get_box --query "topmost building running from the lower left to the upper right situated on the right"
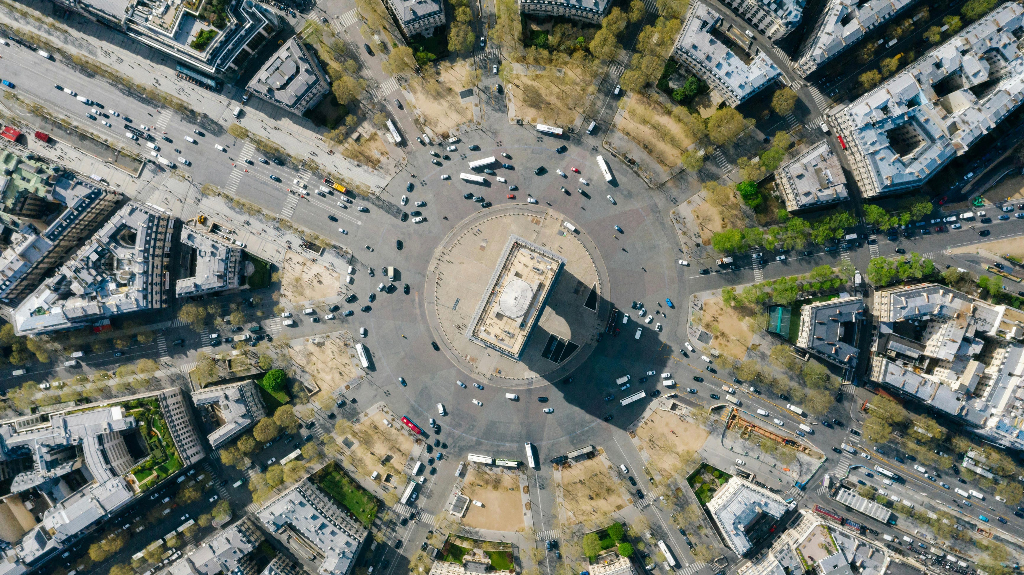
[795,0,915,75]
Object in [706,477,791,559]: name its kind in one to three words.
house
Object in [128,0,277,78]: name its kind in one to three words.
building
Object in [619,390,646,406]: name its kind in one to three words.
vehicle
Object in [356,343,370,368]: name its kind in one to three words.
vehicle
